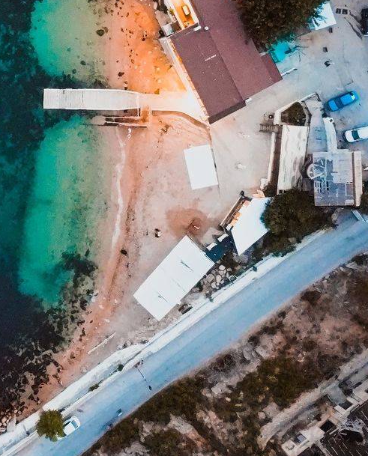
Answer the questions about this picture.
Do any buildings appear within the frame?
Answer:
Yes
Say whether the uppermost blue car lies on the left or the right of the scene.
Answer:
right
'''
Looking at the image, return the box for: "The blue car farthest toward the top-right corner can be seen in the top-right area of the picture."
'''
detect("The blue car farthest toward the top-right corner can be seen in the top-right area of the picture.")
[325,90,361,113]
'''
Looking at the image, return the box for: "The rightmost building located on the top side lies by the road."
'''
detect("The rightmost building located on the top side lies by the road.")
[302,151,354,206]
